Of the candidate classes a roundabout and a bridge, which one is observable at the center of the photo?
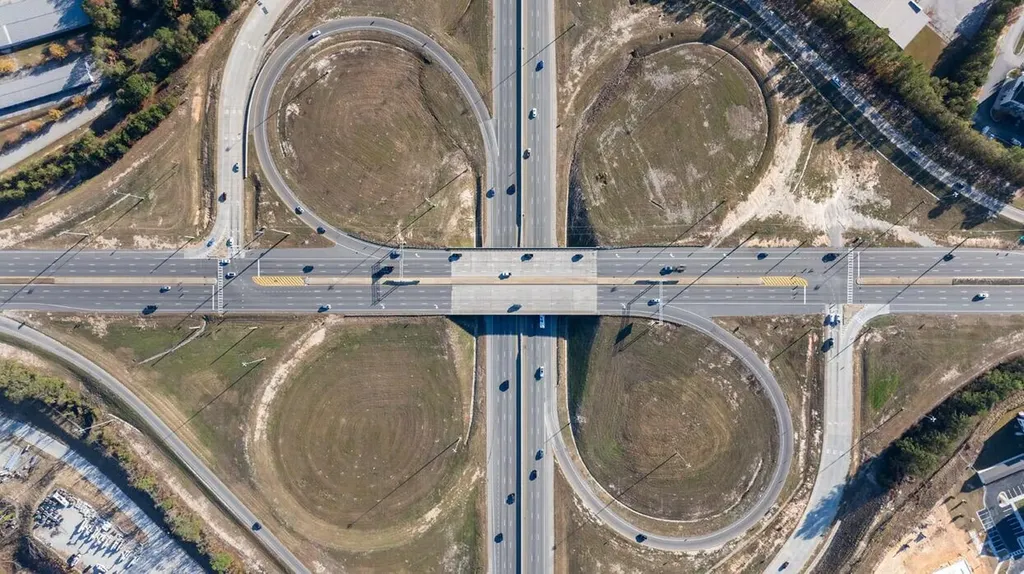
bridge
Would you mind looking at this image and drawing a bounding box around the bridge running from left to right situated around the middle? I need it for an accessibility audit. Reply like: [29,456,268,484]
[451,248,597,315]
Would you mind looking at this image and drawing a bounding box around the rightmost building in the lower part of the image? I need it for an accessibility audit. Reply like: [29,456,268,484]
[970,448,1024,484]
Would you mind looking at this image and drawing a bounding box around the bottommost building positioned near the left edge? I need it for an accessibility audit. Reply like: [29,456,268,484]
[0,56,100,113]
